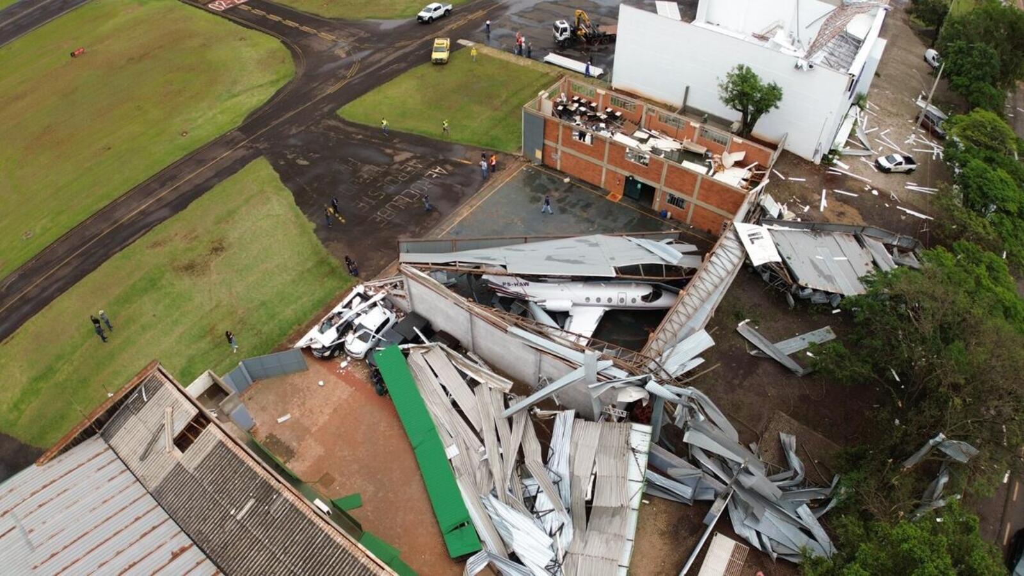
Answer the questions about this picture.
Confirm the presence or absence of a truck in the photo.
Yes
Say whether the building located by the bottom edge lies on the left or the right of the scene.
left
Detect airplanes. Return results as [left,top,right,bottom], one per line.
[471,269,678,356]
[531,303,558,334]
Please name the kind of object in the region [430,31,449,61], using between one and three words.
vehicle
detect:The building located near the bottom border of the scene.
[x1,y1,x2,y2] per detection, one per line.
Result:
[0,358,405,576]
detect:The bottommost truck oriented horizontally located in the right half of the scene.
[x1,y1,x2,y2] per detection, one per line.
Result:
[871,151,930,175]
